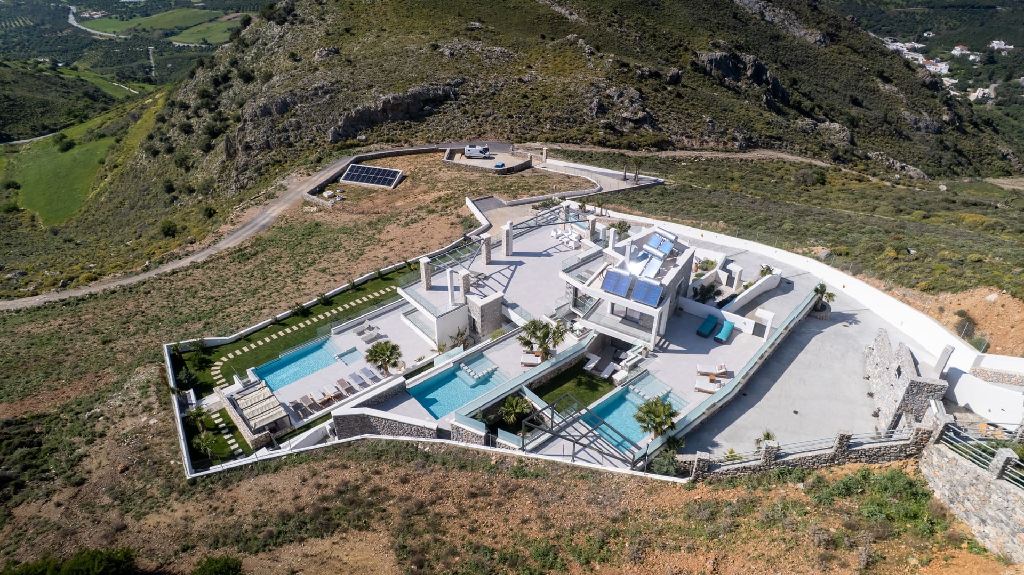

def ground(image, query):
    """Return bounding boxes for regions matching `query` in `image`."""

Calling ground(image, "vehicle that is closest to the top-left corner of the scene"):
[463,144,492,160]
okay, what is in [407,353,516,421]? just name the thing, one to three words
swimming pool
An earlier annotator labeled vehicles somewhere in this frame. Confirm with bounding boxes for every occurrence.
[494,159,506,169]
[463,144,492,160]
